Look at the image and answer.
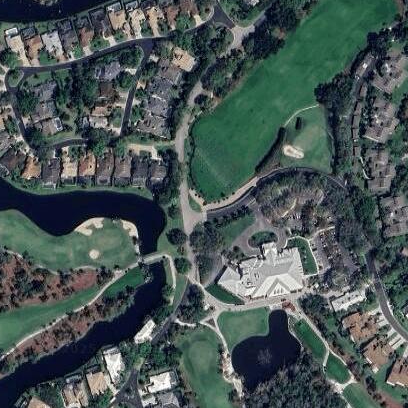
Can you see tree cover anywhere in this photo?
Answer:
Yes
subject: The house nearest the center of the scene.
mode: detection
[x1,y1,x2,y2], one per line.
[150,162,169,185]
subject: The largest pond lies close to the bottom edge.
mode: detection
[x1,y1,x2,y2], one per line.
[232,310,302,394]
